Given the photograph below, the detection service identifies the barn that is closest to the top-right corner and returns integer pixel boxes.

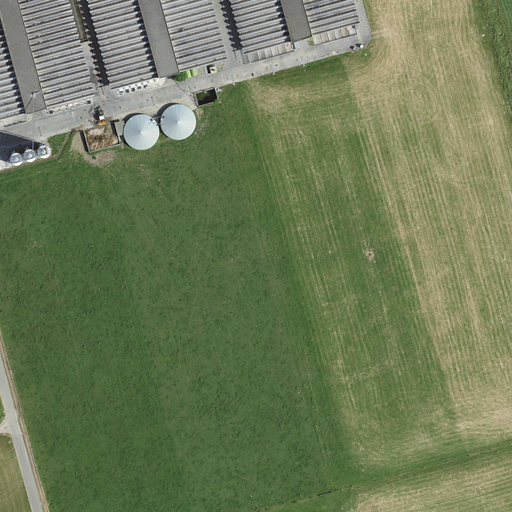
[304,0,360,36]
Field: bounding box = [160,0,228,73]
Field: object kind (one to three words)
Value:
barn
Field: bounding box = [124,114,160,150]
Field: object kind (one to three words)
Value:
storage tank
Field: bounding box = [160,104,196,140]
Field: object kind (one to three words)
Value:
storage tank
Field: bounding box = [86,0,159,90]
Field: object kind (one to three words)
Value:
barn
